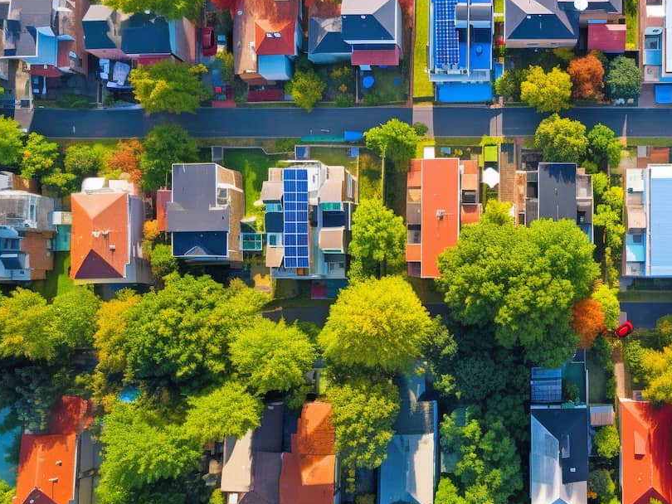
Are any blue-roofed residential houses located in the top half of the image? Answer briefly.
Yes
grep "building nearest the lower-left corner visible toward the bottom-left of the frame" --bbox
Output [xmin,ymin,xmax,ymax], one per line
[13,393,110,504]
